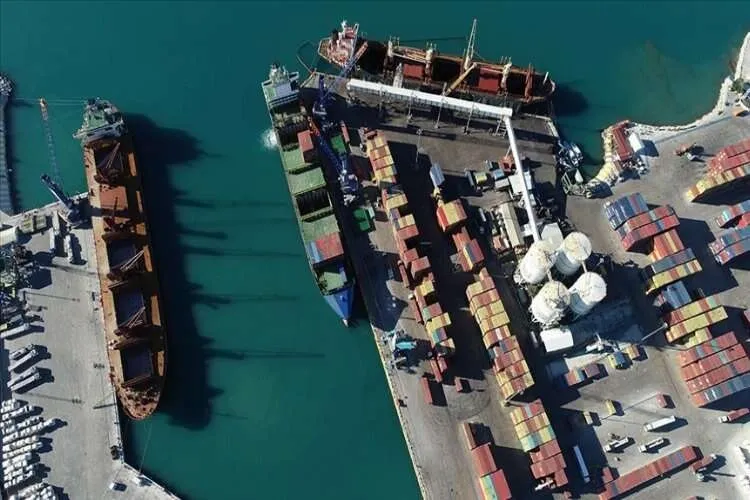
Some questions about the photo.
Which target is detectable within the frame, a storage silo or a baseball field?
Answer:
storage silo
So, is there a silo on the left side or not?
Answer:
No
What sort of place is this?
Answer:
port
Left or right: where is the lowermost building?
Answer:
right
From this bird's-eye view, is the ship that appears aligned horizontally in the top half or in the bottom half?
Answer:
top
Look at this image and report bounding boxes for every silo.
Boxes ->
[567,272,609,315]
[530,280,572,322]
[521,236,562,280]
[553,232,593,276]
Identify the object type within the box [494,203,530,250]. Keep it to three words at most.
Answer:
building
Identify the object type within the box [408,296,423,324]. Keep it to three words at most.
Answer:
vehicle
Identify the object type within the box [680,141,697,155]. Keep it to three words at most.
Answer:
work vehicle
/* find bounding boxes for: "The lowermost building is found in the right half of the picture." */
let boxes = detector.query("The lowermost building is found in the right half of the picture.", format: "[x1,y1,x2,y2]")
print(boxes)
[538,327,575,354]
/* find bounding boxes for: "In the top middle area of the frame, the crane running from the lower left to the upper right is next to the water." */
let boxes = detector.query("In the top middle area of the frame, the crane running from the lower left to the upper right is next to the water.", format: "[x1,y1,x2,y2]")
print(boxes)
[305,40,369,131]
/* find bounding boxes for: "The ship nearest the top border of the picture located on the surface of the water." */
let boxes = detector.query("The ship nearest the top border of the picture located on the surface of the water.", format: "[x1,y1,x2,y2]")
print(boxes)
[304,19,557,122]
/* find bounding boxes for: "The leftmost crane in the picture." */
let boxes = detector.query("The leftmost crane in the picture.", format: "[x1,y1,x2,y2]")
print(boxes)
[39,99,86,226]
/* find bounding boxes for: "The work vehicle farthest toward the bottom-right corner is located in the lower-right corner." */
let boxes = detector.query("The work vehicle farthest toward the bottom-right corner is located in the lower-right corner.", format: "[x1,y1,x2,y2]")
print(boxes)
[686,458,715,489]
